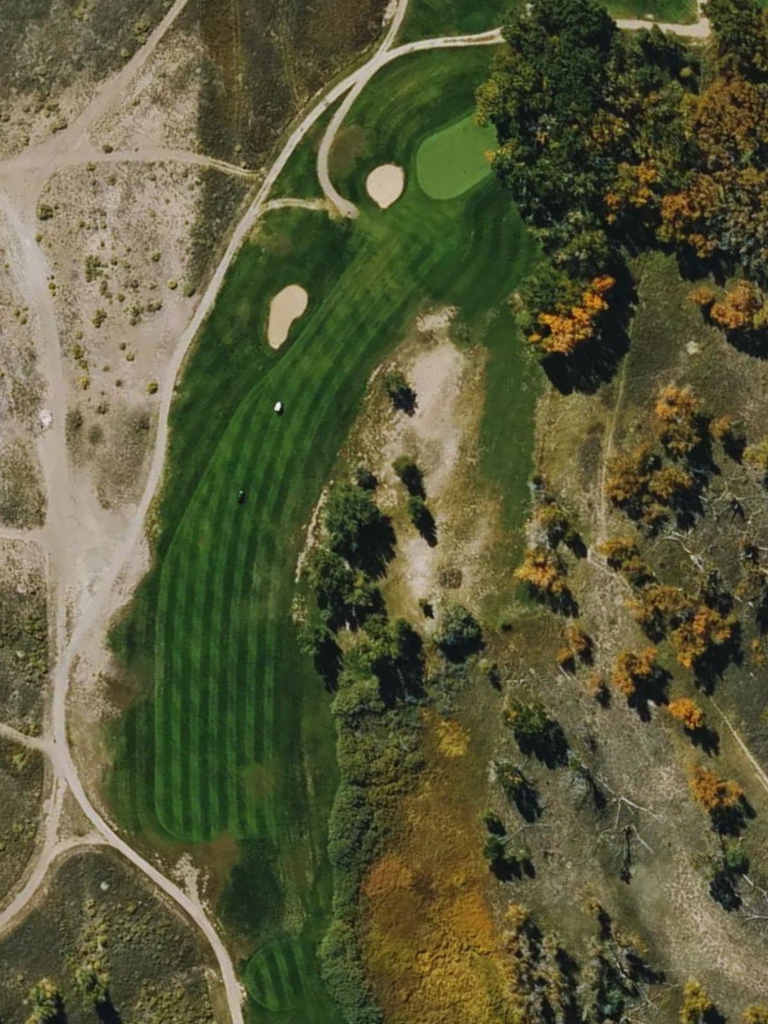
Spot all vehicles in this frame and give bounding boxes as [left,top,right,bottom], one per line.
[274,402,281,413]
[238,491,245,502]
